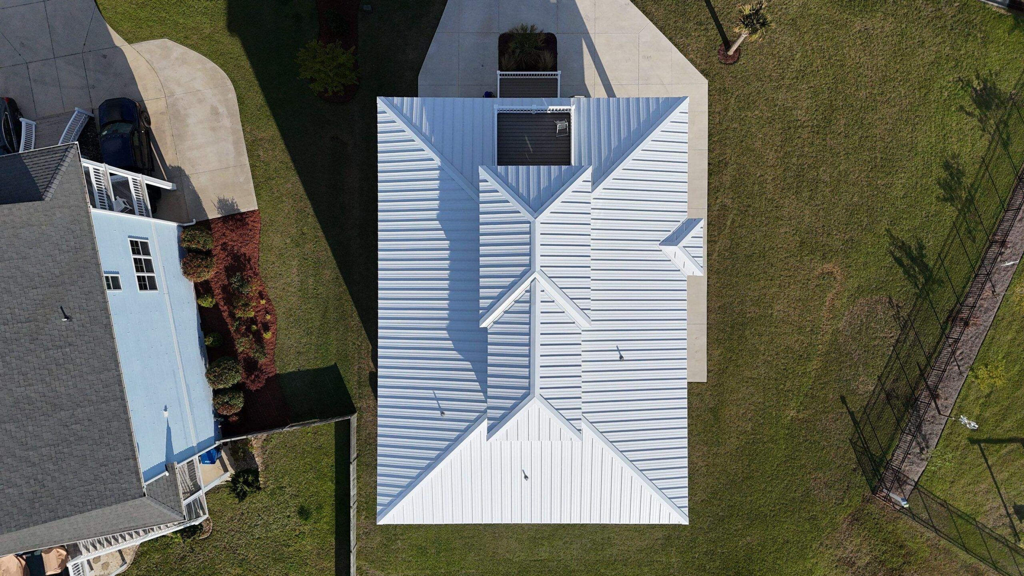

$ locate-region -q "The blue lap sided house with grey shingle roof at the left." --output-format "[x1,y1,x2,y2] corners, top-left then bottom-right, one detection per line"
[0,93,230,576]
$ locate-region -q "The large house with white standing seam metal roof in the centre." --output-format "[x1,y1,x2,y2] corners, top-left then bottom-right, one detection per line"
[377,70,703,524]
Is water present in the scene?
No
